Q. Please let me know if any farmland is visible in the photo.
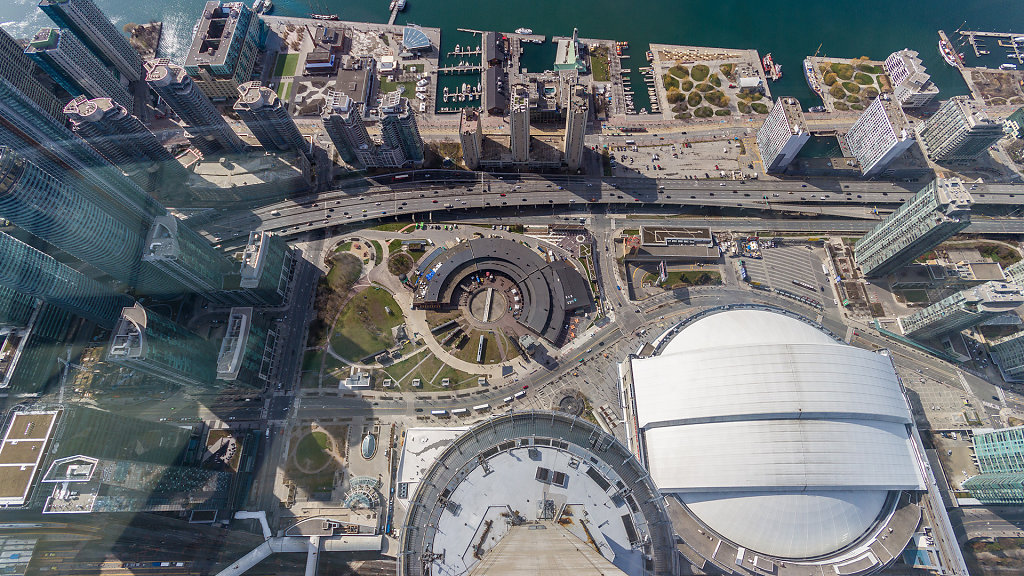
No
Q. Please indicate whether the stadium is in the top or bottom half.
bottom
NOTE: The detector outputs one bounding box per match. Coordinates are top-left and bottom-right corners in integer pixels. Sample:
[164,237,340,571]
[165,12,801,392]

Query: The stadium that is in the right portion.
[623,303,969,576]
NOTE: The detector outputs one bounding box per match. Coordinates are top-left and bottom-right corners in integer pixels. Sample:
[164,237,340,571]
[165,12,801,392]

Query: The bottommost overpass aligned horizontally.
[190,169,1024,250]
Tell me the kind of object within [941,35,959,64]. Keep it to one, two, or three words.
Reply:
ship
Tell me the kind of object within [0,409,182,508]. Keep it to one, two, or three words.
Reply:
building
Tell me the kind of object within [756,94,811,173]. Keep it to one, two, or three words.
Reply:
building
